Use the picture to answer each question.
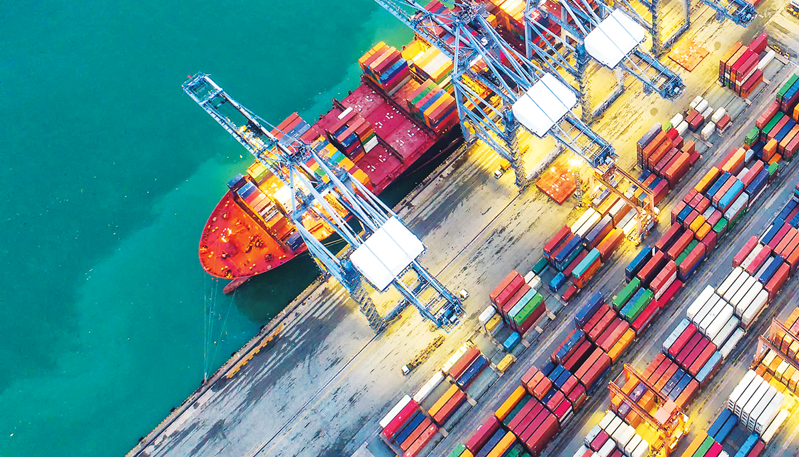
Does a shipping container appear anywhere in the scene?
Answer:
Yes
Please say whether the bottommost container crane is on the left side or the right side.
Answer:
right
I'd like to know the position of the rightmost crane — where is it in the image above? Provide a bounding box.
[751,313,799,370]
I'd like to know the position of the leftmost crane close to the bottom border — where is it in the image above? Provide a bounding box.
[605,360,691,457]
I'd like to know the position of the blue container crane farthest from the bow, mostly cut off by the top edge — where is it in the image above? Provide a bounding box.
[602,0,760,59]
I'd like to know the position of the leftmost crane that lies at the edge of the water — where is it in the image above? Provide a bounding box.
[176,67,473,343]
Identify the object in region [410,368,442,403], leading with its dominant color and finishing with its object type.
white shipping container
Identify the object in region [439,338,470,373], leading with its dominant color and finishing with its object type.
white shipping container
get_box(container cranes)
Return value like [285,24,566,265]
[521,0,691,128]
[602,0,760,59]
[372,0,623,197]
[176,67,473,343]
[605,360,691,457]
[588,161,662,243]
[751,313,799,370]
